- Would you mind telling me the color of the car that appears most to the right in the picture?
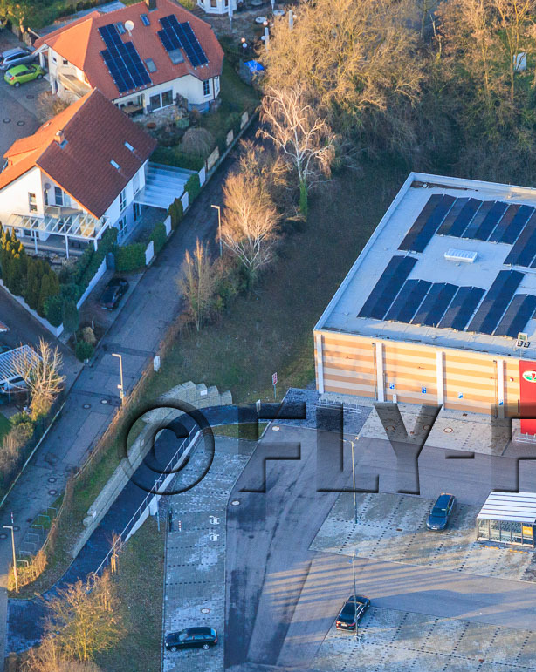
blue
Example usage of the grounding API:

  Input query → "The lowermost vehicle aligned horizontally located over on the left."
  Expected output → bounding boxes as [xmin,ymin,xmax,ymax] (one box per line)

[160,625,222,653]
